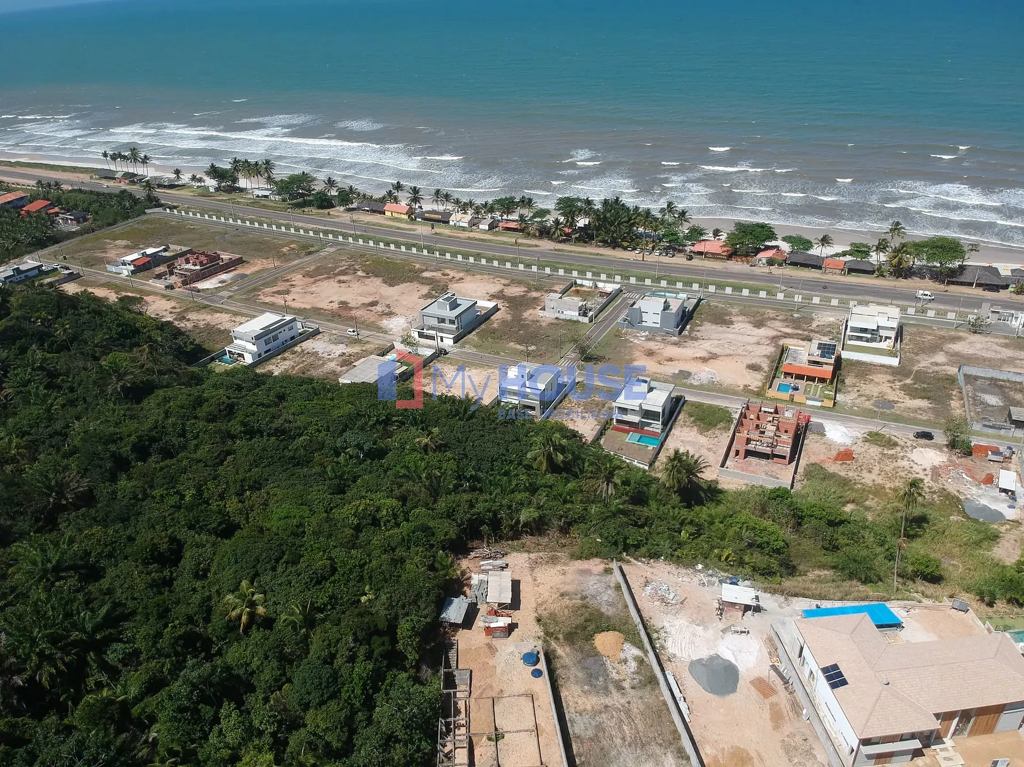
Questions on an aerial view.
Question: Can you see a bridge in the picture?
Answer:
No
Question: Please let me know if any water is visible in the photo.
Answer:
Yes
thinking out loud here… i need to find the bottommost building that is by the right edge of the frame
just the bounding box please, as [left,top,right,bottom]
[791,613,1024,764]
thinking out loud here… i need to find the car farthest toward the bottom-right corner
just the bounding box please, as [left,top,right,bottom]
[910,429,936,441]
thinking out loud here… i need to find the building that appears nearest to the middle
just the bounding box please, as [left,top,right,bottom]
[495,361,564,423]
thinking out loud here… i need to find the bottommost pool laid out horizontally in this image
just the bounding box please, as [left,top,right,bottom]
[621,435,658,452]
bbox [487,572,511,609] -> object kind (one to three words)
shed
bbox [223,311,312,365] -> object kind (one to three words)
house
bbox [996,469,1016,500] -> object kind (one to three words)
shed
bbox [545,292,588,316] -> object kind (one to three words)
house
